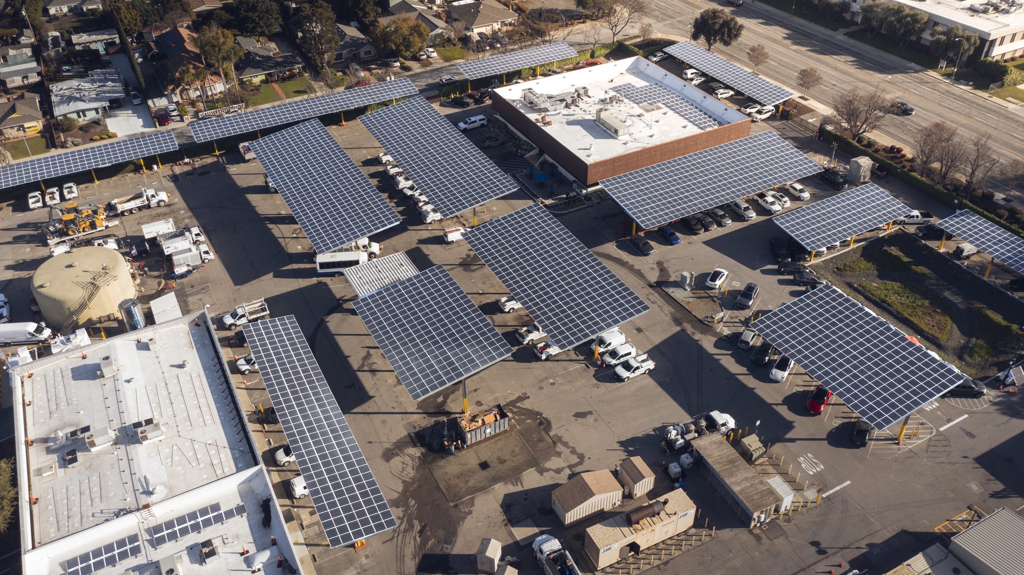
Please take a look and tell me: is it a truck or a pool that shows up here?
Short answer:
truck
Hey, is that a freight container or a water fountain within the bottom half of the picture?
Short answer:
freight container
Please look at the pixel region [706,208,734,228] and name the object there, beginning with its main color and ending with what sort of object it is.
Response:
gray car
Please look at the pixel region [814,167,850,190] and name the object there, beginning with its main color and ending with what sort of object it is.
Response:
black truck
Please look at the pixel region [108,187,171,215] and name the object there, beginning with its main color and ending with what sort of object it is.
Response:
white truck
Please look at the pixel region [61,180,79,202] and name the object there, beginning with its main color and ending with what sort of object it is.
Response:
white vehicle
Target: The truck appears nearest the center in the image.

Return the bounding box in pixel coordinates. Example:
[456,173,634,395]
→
[490,294,523,317]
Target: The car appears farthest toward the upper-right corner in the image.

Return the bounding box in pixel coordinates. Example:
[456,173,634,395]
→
[890,102,916,116]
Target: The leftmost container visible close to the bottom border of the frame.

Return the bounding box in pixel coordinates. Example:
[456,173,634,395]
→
[586,486,697,572]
